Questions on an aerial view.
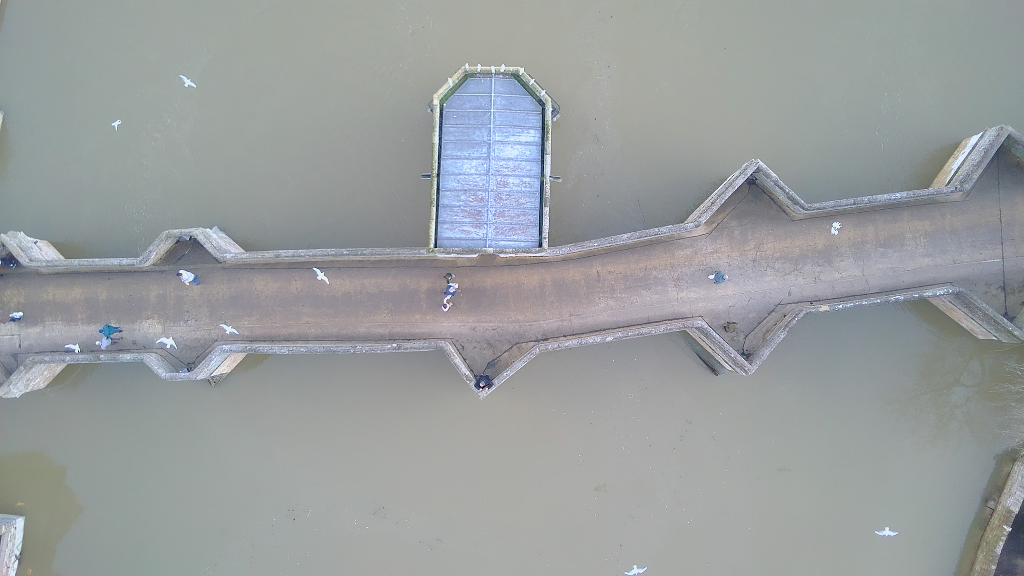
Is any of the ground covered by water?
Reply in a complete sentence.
Yes, water shows up in the scene.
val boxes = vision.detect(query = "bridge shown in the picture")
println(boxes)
[0,125,1024,399]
